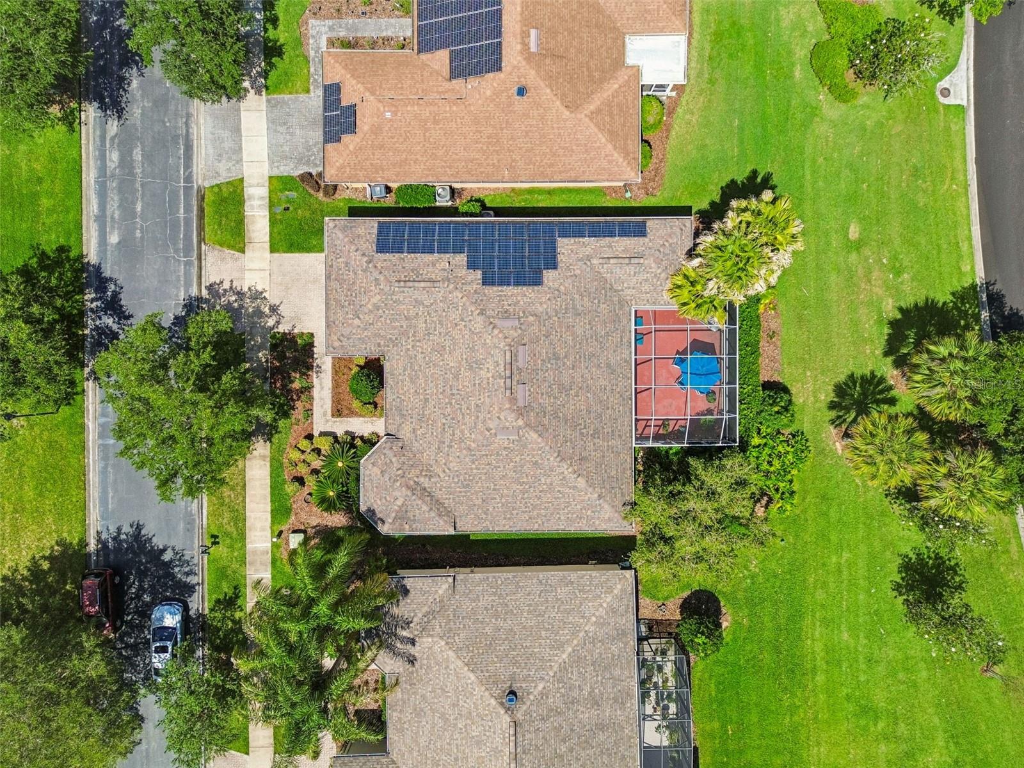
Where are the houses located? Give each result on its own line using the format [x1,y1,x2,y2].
[323,215,696,536]
[321,0,690,204]
[330,565,640,768]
